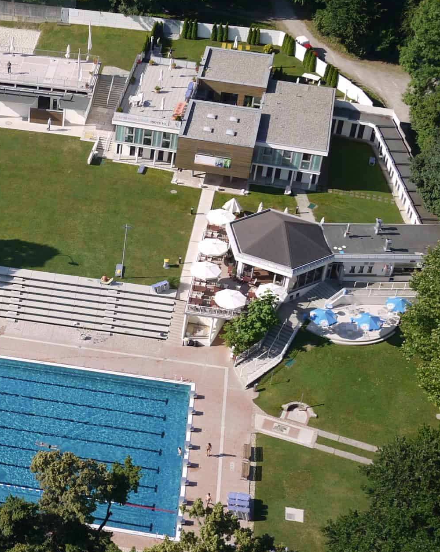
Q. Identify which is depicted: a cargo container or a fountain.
fountain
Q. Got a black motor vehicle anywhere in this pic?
No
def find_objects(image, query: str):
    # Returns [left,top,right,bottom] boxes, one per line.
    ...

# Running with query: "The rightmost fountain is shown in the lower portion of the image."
[279,390,317,428]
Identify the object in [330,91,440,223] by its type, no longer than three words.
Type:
building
